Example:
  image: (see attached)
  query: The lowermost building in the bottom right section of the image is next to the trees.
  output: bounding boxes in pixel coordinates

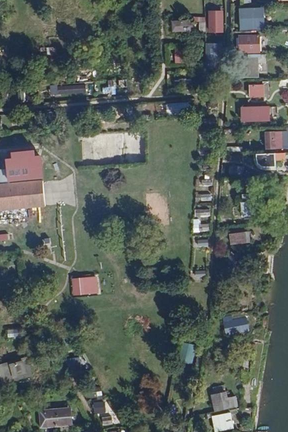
[212,413,234,432]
